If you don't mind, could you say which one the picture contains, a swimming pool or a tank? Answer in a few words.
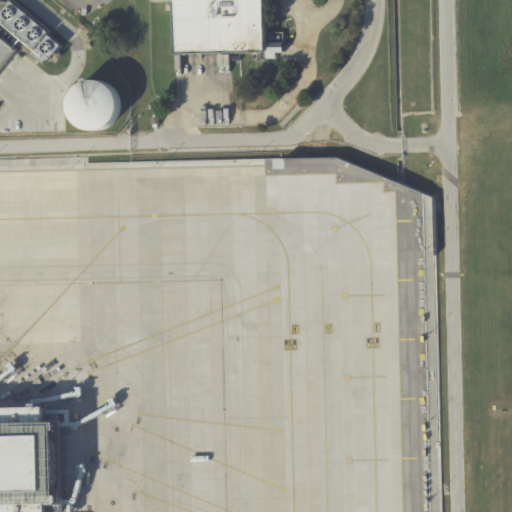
tank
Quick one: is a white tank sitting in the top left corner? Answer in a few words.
Yes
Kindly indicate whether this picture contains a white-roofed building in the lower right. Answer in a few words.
No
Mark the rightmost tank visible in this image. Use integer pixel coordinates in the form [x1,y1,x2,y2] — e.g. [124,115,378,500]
[64,78,121,132]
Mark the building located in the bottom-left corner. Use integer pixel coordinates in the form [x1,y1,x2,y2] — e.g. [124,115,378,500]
[0,404,65,512]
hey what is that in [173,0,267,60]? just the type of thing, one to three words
building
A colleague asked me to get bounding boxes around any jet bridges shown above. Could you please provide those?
[52,459,86,506]
[28,387,82,407]
[46,396,116,428]
[64,502,74,512]
[0,361,15,381]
